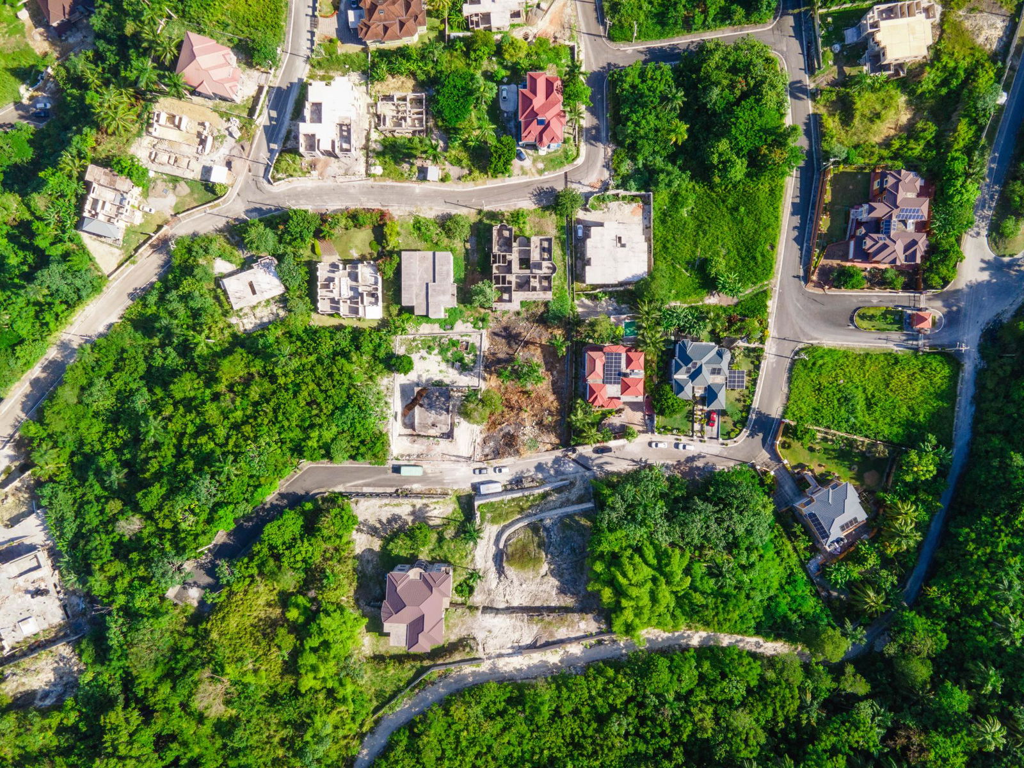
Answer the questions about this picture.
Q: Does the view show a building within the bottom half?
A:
Yes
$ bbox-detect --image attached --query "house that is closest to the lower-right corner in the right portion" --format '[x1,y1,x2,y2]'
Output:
[785,477,872,547]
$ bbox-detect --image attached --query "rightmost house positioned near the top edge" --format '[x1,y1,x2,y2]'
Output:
[854,1,937,86]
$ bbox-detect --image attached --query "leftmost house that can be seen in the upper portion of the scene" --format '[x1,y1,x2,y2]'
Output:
[1,0,85,43]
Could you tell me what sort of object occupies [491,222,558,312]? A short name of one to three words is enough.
house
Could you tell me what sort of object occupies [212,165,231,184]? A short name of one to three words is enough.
shed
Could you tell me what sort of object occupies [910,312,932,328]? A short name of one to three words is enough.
building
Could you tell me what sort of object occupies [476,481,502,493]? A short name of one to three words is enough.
vehicle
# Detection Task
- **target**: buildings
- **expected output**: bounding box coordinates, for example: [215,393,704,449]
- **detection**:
[463,0,526,38]
[854,1,937,86]
[910,312,932,328]
[672,342,731,410]
[399,383,455,440]
[0,548,74,645]
[585,220,647,285]
[359,0,427,60]
[1,0,85,43]
[212,165,231,184]
[382,561,452,652]
[401,251,457,318]
[785,477,872,547]
[519,72,566,158]
[318,258,384,320]
[577,344,645,409]
[173,30,266,113]
[221,251,291,317]
[491,222,558,312]
[81,163,157,249]
[298,75,364,162]
[428,166,439,181]
[833,168,929,272]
